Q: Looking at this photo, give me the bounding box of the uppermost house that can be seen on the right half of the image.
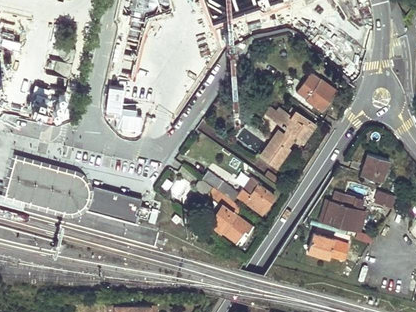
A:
[297,74,337,113]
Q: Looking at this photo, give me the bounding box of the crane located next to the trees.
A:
[225,0,239,120]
